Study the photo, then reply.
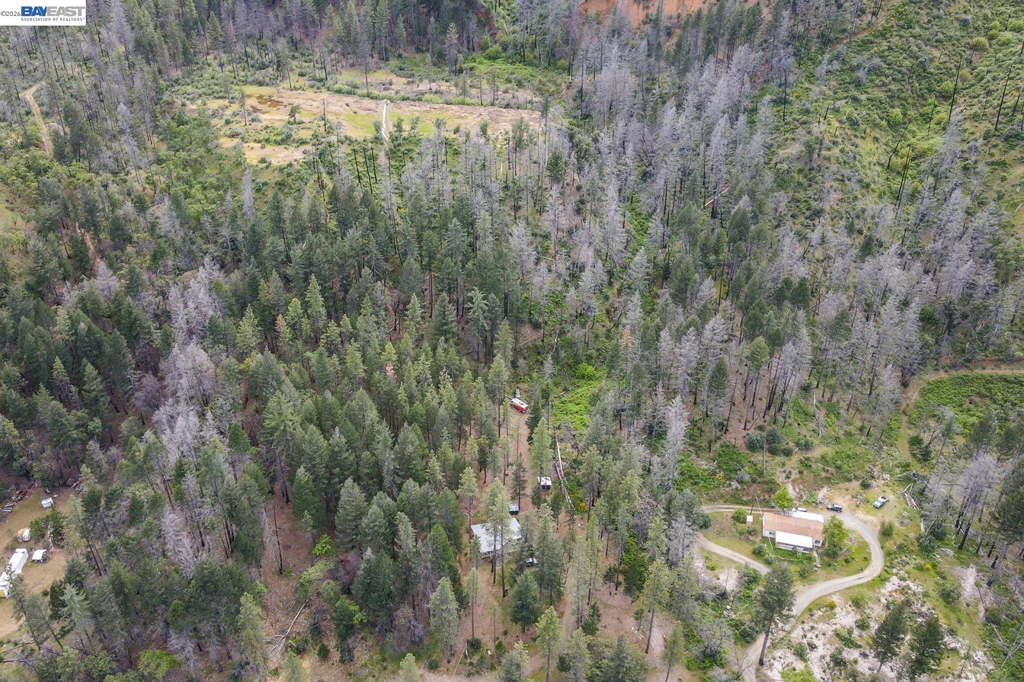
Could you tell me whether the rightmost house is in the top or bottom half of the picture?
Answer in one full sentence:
The rightmost house is in the bottom half of the image.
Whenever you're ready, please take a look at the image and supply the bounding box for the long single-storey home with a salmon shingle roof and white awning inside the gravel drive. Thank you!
[763,507,827,563]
